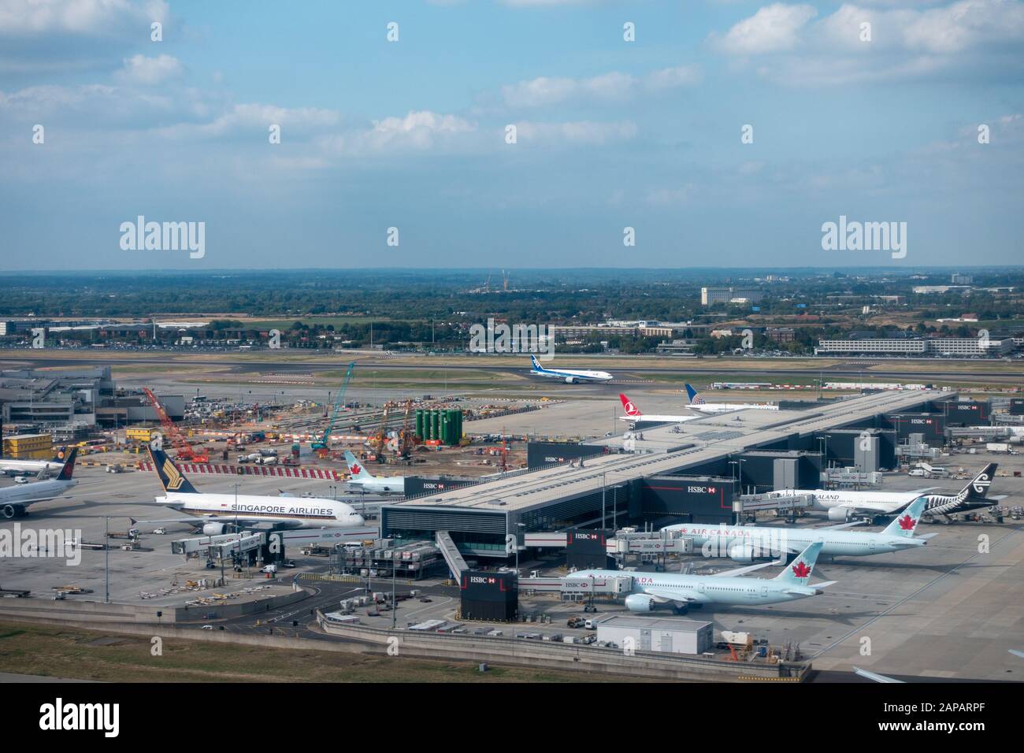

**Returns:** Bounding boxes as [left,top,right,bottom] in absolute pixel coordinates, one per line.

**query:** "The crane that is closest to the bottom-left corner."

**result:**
[140,387,213,462]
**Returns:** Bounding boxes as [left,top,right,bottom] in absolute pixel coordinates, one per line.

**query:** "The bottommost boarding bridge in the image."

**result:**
[530,578,644,619]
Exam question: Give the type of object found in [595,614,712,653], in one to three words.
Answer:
shed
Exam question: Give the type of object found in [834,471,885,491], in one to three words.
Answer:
jet bridge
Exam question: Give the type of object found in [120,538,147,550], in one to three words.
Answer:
vehicle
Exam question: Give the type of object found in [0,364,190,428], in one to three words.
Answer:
building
